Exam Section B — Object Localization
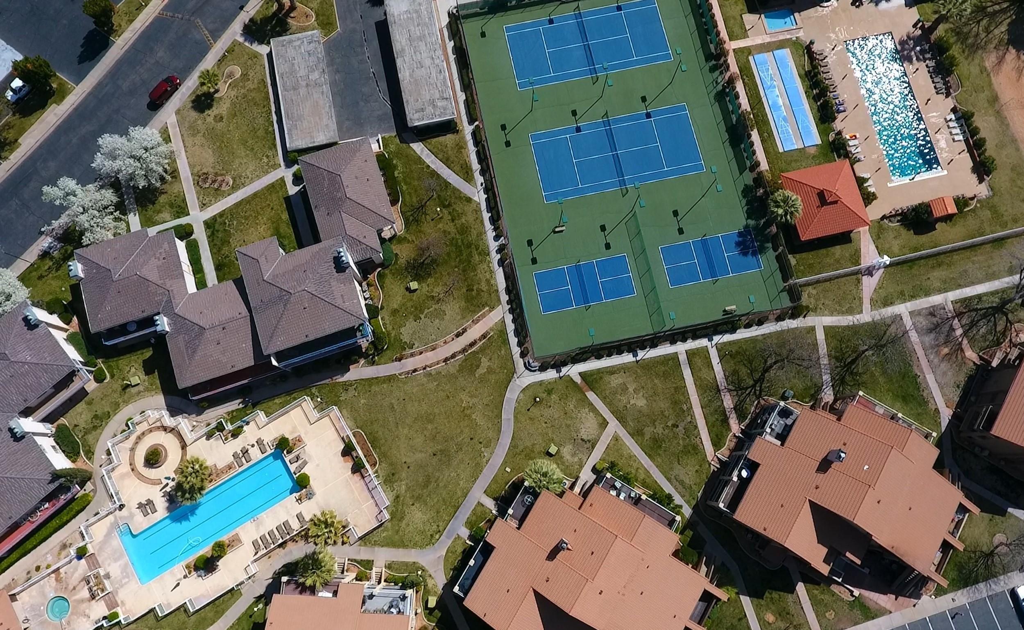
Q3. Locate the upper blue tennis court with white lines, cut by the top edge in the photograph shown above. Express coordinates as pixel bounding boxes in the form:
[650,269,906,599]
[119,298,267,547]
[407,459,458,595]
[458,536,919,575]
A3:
[503,0,673,90]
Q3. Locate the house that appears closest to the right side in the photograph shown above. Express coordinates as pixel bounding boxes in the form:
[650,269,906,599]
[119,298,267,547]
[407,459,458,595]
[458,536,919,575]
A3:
[954,322,1024,467]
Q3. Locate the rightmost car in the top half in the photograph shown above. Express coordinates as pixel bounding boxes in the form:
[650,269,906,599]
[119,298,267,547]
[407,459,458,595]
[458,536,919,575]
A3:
[149,72,181,103]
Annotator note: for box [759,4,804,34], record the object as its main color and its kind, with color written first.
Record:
blue swimming pool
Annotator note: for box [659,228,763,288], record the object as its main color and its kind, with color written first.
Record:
blue sports court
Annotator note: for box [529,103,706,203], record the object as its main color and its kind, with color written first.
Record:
blue tennis court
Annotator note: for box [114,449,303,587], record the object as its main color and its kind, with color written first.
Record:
blue swimming pool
